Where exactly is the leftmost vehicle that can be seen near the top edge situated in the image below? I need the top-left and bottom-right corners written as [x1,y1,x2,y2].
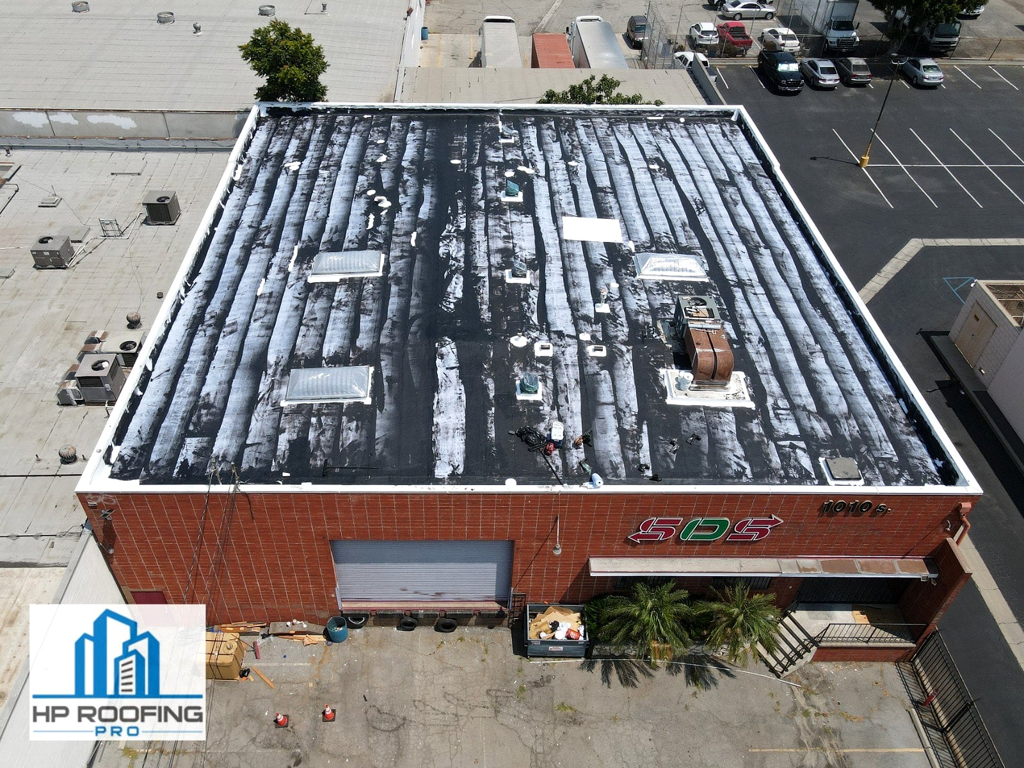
[478,13,524,69]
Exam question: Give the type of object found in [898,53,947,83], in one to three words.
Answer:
car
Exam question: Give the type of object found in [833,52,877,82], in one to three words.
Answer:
car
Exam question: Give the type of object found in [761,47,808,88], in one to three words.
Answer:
truck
